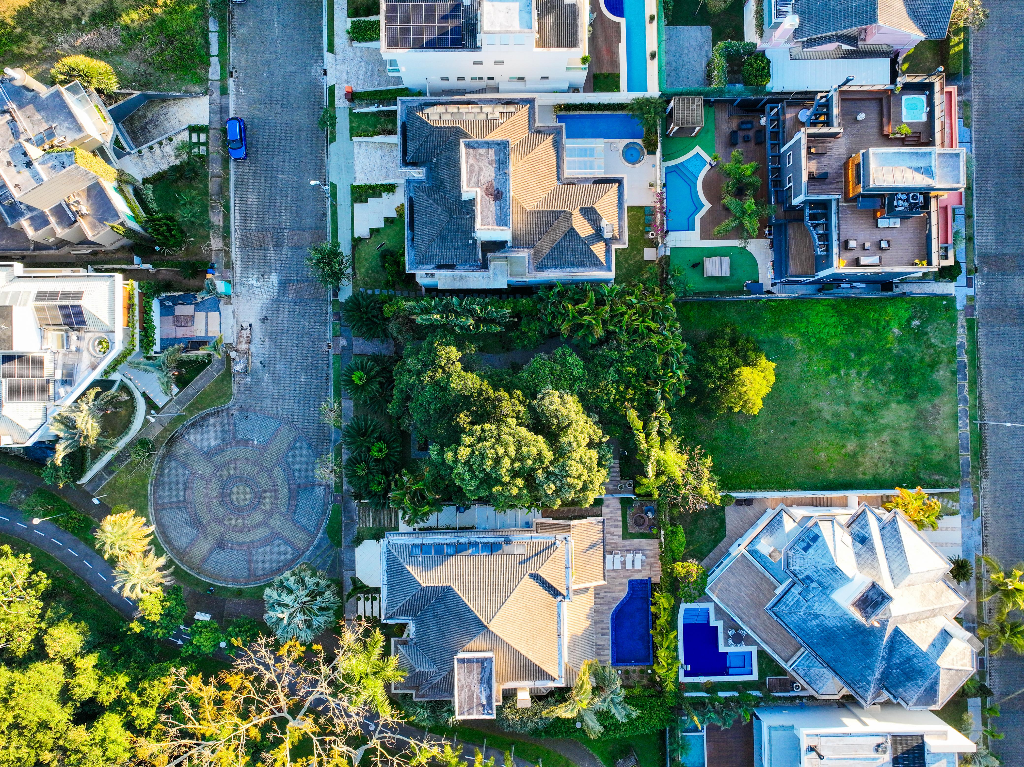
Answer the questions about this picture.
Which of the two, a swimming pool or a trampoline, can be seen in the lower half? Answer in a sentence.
The feature located in the lower half is a swimming pool.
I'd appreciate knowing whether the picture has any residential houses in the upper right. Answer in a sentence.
Yes, in the upper right there is a residential house.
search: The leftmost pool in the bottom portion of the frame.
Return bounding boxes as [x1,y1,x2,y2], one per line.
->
[609,577,654,667]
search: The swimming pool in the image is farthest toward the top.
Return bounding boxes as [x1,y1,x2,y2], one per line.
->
[599,0,647,89]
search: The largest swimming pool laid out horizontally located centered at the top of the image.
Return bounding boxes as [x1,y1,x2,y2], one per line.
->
[554,111,646,141]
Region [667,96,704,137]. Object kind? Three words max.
gazebo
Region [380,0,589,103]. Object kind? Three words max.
house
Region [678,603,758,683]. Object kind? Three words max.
swimming pool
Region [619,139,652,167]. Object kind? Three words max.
swimming pool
